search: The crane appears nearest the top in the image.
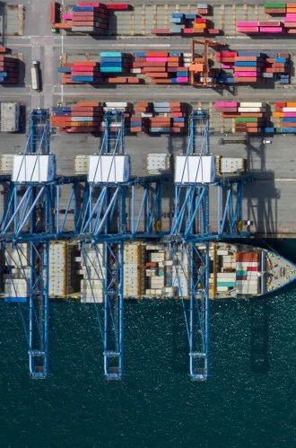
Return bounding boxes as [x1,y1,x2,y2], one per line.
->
[187,40,228,89]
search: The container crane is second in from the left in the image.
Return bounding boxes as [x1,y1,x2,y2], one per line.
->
[73,108,186,378]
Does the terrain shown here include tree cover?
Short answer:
No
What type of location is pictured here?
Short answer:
port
